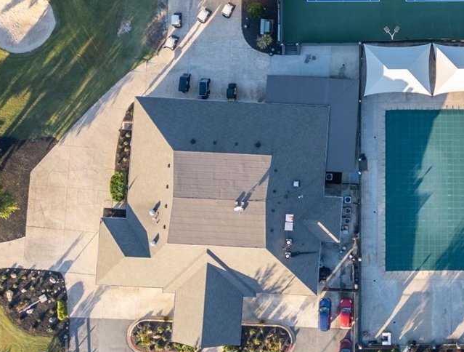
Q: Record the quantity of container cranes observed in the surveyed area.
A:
0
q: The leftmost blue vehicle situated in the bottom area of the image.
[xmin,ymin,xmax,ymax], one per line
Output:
[317,299,331,334]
